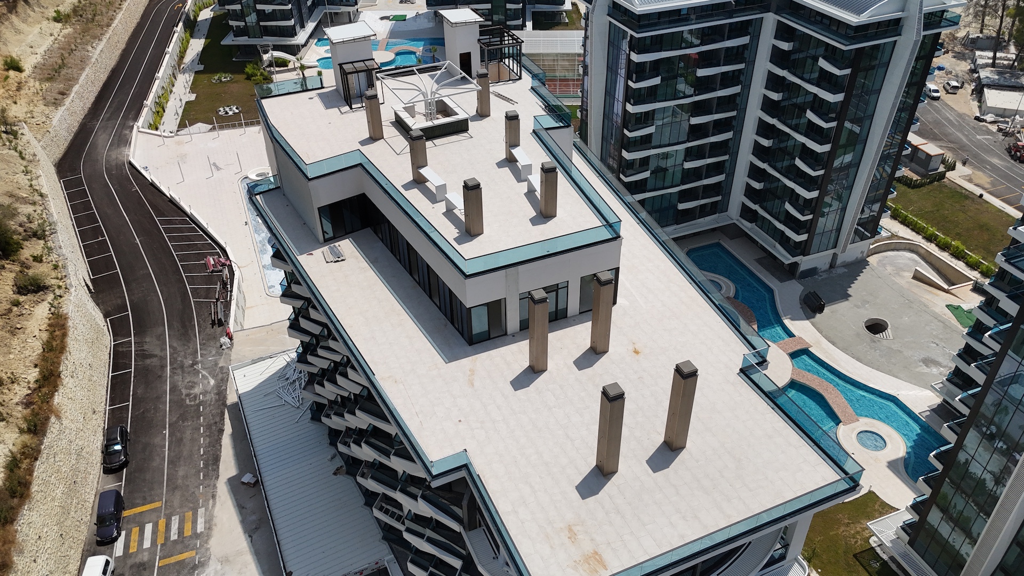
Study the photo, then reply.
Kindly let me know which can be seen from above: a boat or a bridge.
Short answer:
bridge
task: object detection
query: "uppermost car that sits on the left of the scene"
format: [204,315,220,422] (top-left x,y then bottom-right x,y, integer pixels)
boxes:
[98,423,129,471]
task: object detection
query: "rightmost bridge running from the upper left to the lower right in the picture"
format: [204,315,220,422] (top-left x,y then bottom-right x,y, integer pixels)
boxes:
[790,367,857,425]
